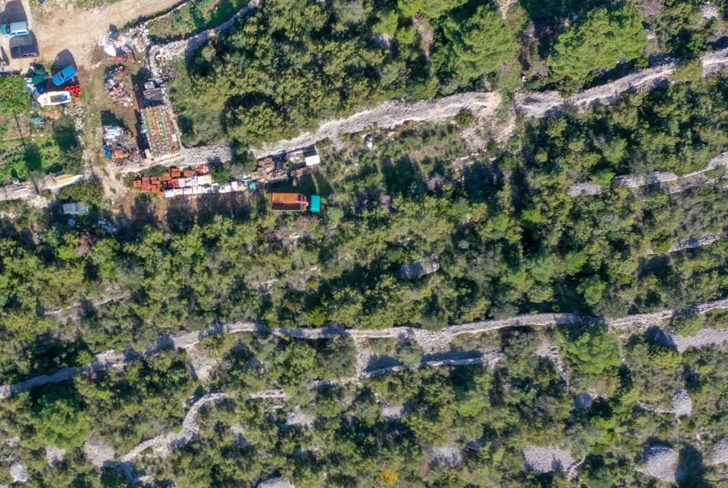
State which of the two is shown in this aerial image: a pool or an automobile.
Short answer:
automobile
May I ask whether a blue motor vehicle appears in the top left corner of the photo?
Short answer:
Yes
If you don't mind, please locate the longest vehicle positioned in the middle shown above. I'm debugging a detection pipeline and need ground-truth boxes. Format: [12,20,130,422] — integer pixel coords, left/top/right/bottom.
[267,193,323,213]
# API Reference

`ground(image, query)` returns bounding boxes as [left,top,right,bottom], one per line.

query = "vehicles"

[60,201,90,215]
[50,62,79,89]
[267,193,323,213]
[10,42,41,59]
[0,22,30,39]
